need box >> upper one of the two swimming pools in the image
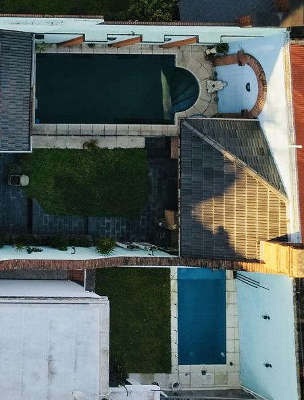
[35,42,213,147]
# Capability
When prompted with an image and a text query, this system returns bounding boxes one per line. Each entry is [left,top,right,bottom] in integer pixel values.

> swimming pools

[128,267,241,388]
[35,42,213,147]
